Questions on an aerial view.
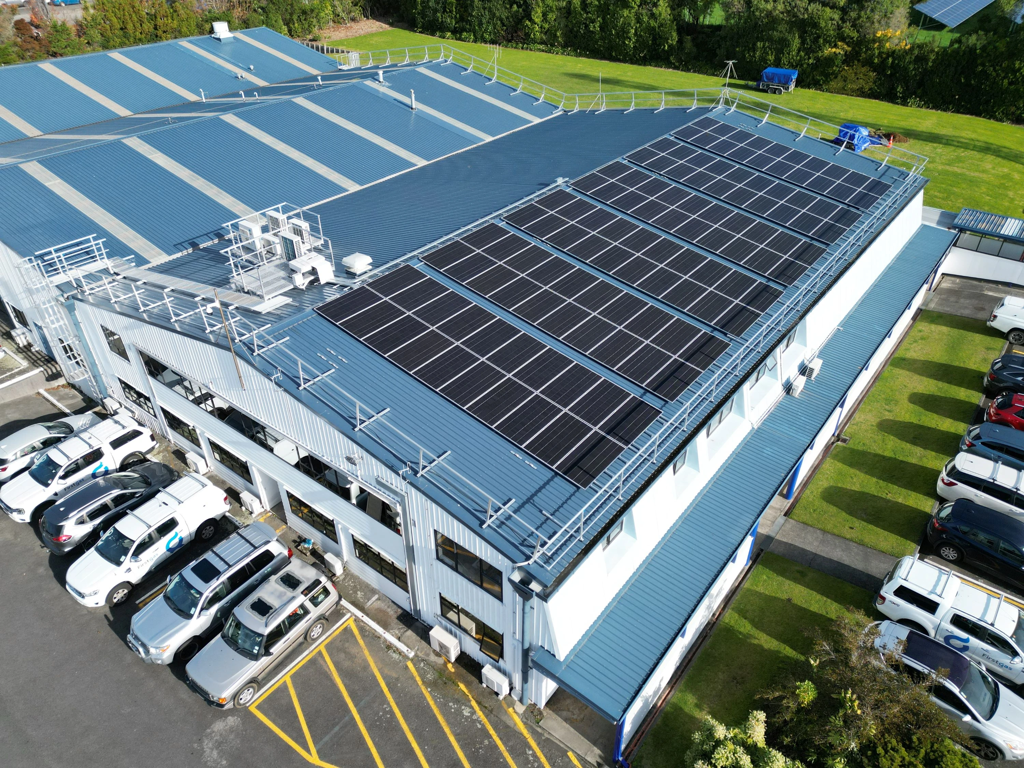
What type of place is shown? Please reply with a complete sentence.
This image shows an industrial area.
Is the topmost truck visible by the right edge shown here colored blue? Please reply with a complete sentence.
No, from above the topmost truck visible by the right edge looks white.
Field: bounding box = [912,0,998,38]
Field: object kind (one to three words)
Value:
solar array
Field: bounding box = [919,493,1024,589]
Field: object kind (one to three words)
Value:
car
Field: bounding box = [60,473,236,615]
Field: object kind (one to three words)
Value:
truck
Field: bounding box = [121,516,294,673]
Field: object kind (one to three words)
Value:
car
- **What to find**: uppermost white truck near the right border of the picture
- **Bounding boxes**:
[986,293,1024,343]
